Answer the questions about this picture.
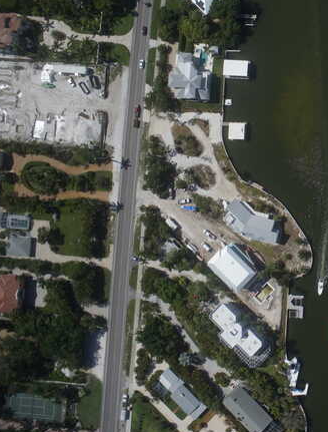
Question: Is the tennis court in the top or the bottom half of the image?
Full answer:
You can find the tennis court in the bottom half.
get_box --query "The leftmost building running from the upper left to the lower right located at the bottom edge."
[152,369,206,419]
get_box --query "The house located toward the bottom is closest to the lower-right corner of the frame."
[224,385,283,432]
